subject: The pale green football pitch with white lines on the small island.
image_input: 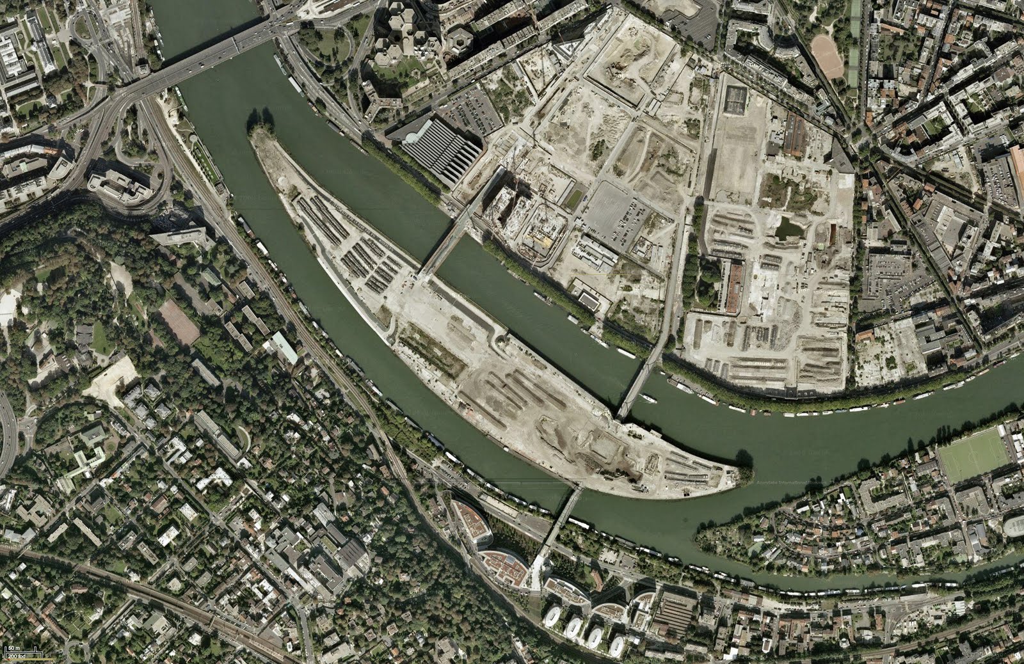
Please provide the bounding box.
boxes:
[942,429,1008,481]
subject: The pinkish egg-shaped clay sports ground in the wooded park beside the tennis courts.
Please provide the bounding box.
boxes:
[811,35,844,79]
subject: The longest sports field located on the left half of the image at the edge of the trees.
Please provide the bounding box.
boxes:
[158,299,200,345]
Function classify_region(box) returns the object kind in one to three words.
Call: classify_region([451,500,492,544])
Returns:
building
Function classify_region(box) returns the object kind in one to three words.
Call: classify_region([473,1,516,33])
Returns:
building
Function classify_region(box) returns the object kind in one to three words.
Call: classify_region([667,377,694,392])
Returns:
boat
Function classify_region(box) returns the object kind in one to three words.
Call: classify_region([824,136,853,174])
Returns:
shed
